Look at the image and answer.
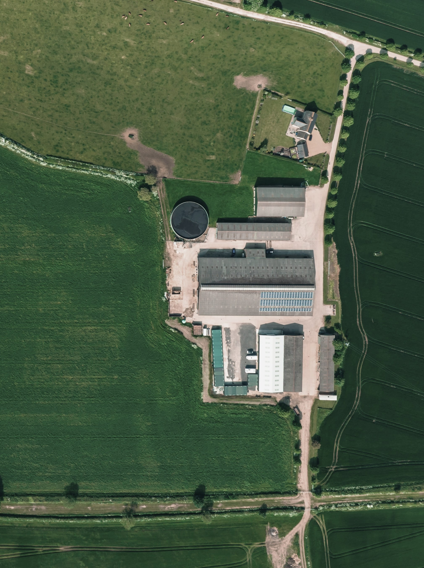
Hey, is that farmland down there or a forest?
farmland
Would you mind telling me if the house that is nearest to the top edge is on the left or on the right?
right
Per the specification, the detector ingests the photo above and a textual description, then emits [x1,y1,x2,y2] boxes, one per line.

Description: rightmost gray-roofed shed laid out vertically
[317,335,335,392]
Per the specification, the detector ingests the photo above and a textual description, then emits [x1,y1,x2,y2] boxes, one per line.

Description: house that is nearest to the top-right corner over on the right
[292,111,317,140]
